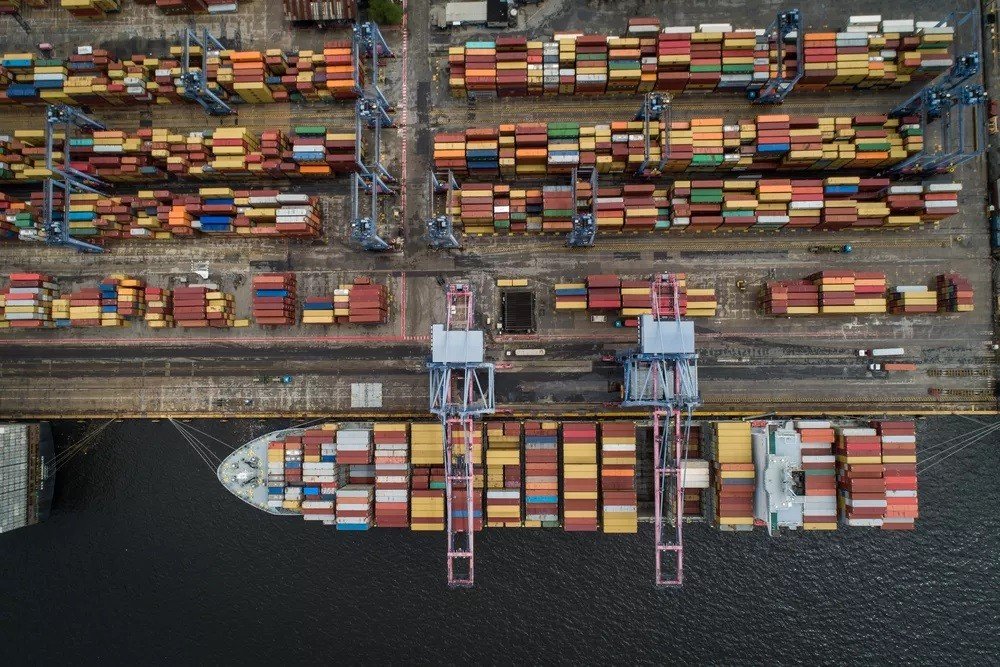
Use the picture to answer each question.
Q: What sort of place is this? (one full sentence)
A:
It's a port.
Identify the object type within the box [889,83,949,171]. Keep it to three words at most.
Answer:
container crane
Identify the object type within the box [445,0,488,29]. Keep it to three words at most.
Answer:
building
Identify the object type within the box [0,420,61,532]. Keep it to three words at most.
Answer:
ship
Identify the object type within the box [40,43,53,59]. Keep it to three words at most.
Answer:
vehicle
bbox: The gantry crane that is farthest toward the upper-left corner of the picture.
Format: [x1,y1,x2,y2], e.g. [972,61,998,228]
[45,101,105,185]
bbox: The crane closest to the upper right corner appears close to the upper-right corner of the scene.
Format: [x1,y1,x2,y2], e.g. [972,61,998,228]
[916,5,979,97]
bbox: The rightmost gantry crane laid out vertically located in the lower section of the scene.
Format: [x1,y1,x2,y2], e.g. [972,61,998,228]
[604,271,705,587]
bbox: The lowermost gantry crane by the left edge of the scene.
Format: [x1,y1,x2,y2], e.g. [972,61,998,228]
[44,177,105,255]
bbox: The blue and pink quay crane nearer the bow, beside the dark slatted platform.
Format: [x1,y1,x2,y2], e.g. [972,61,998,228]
[425,274,512,587]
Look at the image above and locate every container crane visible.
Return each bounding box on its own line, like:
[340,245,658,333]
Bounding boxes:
[566,168,601,248]
[44,177,105,255]
[354,95,393,180]
[45,101,105,185]
[632,89,670,176]
[427,170,461,250]
[916,5,979,97]
[925,82,986,171]
[183,23,233,111]
[352,171,390,251]
[758,7,804,101]
[353,18,391,108]
[425,274,512,587]
[604,271,705,587]
[889,83,949,171]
